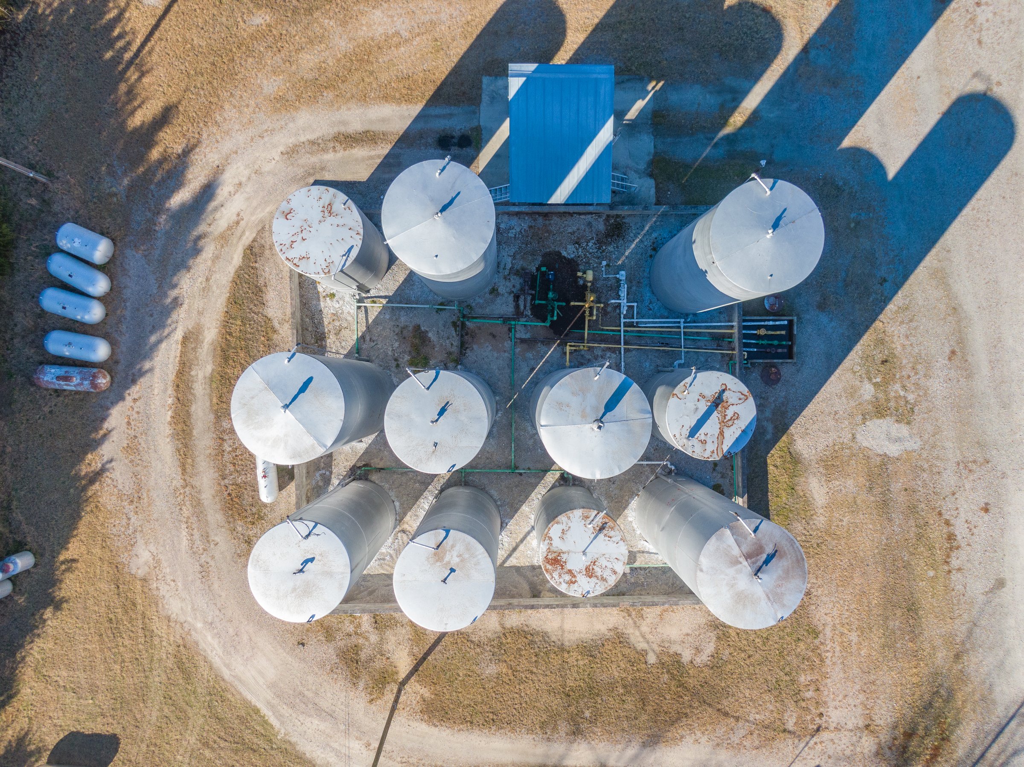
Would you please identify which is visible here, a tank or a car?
tank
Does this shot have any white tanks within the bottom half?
Yes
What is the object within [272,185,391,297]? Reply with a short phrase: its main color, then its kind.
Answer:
white storage tank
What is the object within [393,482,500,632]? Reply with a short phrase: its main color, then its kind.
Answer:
white storage tank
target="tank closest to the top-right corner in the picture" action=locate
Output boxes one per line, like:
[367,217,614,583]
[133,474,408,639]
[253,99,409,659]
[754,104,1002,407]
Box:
[649,170,825,317]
